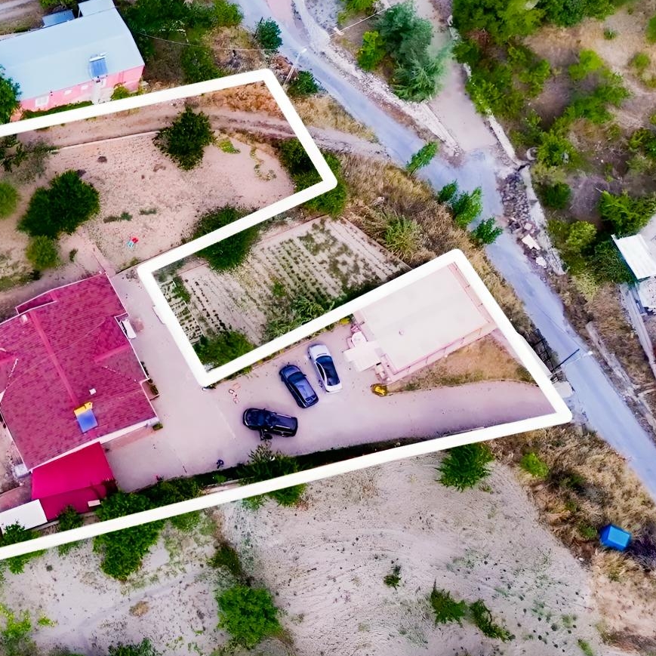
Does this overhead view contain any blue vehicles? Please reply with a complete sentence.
Yes, you can see a blue vehicle in this photo.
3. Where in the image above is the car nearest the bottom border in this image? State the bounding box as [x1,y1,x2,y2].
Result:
[242,406,300,447]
